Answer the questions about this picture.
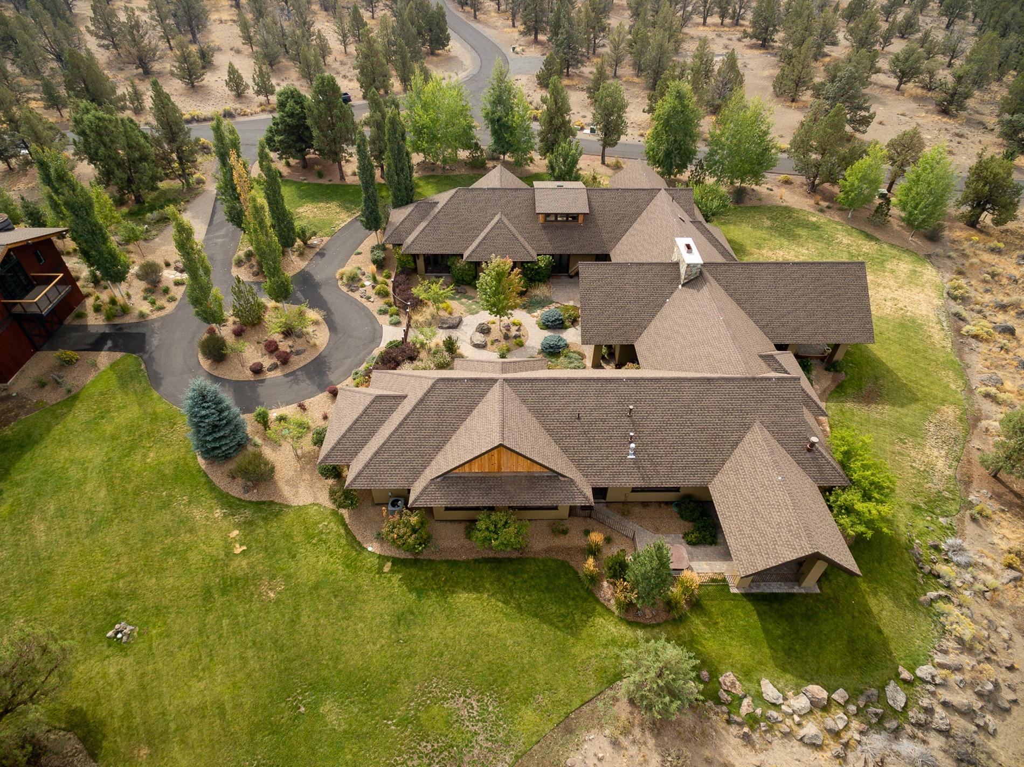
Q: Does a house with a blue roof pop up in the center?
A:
No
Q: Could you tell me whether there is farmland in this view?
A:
No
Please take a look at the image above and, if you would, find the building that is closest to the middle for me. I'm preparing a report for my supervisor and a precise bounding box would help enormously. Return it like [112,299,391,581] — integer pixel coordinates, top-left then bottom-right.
[315,159,875,588]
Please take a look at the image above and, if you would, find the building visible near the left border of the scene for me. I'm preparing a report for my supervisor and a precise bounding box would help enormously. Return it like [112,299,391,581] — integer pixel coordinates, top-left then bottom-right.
[0,229,89,383]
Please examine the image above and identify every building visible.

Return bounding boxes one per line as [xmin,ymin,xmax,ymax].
[0,229,89,383]
[315,159,875,588]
